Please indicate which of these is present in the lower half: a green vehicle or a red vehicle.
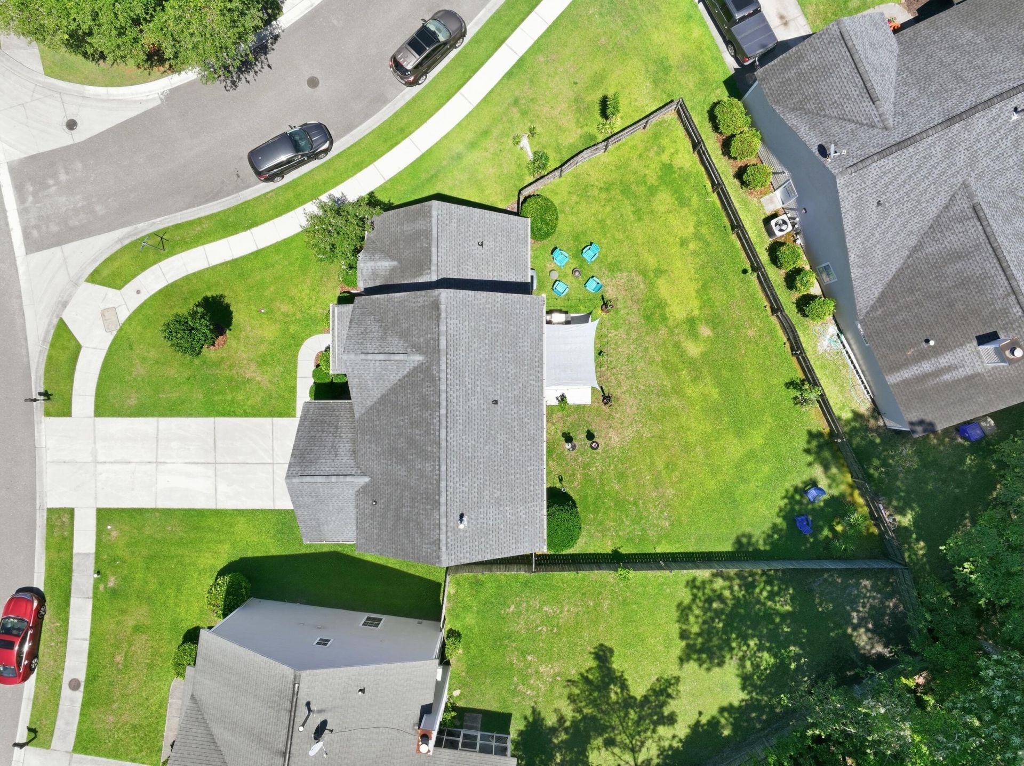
red vehicle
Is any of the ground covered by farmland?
No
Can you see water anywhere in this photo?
No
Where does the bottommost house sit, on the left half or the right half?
left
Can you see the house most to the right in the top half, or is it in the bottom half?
top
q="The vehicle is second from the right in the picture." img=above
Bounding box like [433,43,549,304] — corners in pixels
[392,11,467,85]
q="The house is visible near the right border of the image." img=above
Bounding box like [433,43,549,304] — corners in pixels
[742,0,1024,437]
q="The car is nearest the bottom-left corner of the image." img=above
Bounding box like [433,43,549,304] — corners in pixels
[0,594,47,682]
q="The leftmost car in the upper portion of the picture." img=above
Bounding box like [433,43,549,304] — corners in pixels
[247,122,333,184]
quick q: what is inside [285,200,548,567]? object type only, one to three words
house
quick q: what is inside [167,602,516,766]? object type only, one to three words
house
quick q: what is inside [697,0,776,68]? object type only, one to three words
truck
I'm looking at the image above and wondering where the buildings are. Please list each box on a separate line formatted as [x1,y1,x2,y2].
[742,0,1024,437]
[167,602,516,766]
[285,200,548,567]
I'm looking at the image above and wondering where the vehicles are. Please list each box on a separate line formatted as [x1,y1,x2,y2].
[0,594,47,682]
[392,11,467,85]
[247,122,333,184]
[697,0,776,68]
